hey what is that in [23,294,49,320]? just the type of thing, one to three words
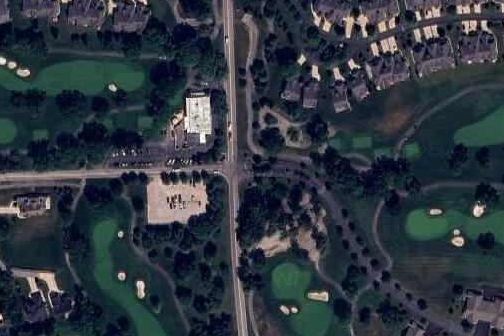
house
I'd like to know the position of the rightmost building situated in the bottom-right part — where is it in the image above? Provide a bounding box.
[464,296,504,326]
